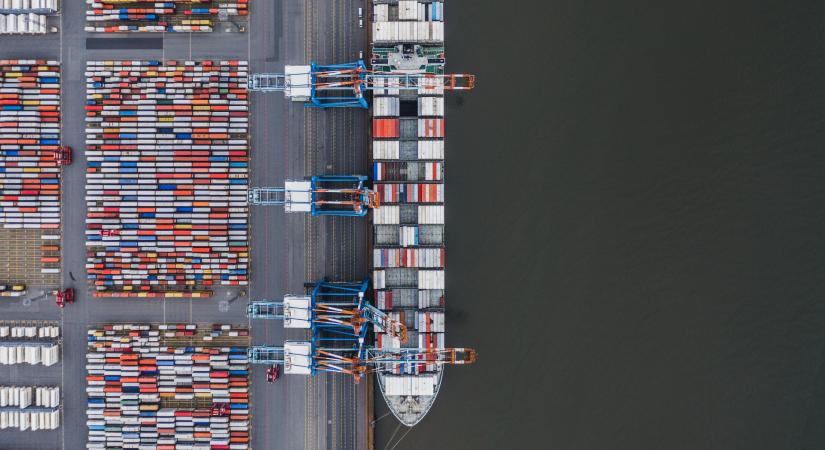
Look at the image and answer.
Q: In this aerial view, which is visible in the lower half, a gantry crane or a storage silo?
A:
gantry crane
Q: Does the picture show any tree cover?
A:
No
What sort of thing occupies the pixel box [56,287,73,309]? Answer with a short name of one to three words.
work vehicle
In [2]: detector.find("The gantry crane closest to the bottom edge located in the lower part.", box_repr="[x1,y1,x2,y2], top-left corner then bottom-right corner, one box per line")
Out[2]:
[250,316,475,377]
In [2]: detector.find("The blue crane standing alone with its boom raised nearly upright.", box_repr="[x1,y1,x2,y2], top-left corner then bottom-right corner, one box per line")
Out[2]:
[250,174,379,217]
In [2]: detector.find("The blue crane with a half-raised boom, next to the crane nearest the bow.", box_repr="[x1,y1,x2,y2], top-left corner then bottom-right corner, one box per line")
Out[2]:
[250,275,408,341]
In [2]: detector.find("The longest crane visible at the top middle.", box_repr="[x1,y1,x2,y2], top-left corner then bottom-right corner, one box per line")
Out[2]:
[250,62,475,111]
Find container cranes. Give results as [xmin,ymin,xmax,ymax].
[250,316,475,377]
[250,174,379,217]
[250,62,475,111]
[250,275,408,341]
